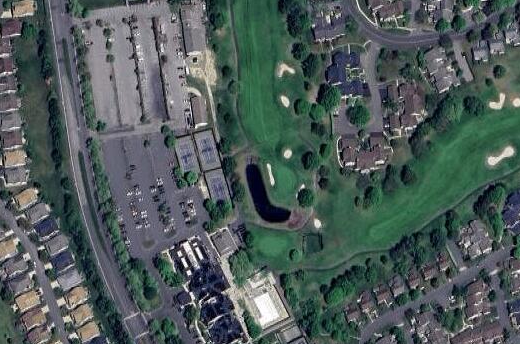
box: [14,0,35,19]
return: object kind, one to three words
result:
house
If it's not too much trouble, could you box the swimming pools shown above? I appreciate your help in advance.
[245,272,288,333]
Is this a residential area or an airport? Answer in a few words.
residential area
